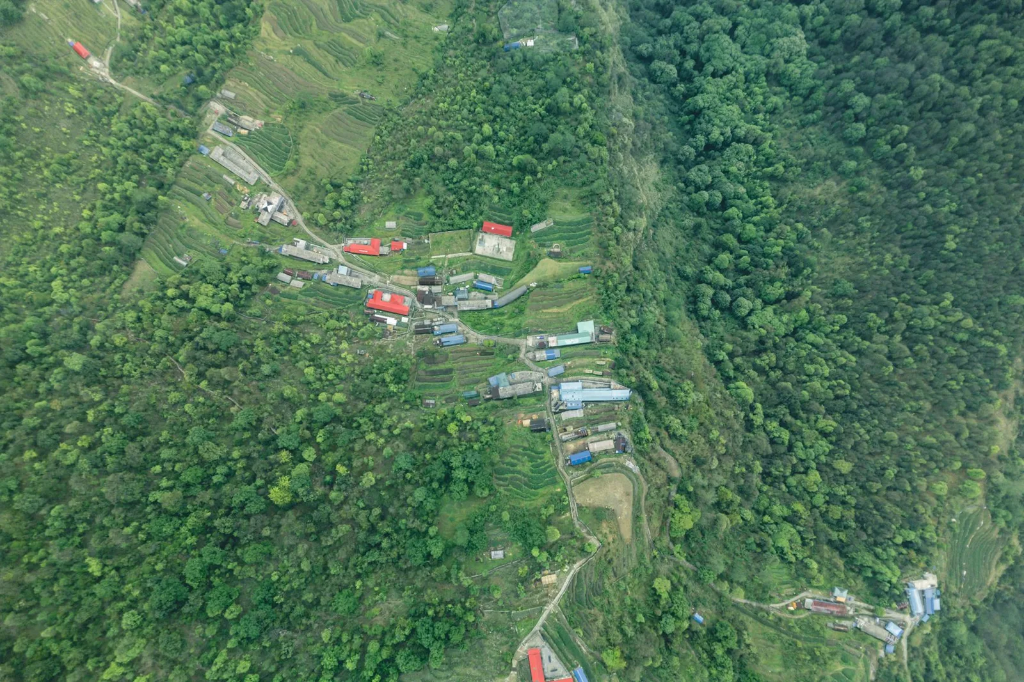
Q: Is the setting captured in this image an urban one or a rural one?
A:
rural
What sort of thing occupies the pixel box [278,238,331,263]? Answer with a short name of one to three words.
building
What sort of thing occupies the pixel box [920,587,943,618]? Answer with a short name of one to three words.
house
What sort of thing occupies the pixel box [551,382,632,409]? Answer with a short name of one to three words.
building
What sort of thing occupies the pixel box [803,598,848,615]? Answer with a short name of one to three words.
house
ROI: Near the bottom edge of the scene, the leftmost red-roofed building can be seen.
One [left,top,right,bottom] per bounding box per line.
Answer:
[528,645,573,682]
